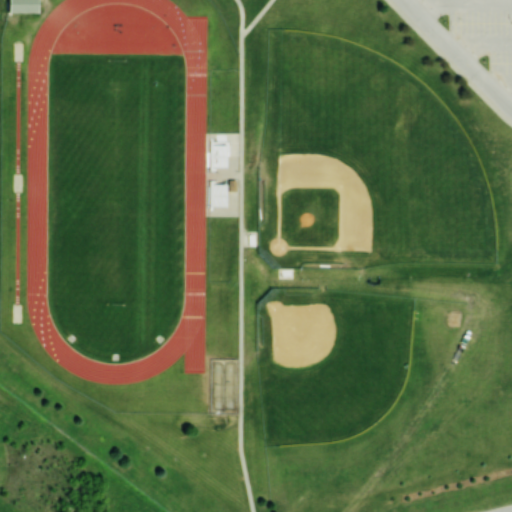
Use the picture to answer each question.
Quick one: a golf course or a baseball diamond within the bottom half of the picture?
baseball diamond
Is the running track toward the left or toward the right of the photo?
left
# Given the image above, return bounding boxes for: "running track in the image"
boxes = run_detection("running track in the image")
[26,0,207,384]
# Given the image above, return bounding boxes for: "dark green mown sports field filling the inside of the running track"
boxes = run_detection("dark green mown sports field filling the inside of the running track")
[47,54,186,364]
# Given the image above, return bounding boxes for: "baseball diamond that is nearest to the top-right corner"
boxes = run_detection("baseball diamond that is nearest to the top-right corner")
[260,28,498,268]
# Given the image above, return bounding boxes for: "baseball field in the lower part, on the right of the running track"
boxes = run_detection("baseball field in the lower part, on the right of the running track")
[257,288,414,446]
